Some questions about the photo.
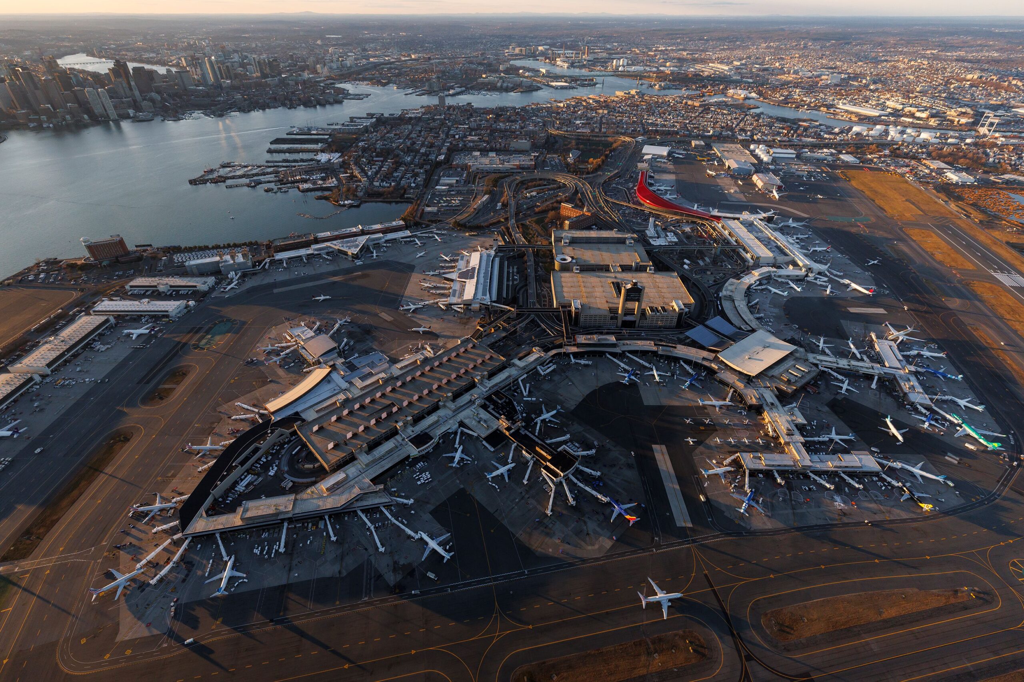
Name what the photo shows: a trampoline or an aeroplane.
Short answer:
aeroplane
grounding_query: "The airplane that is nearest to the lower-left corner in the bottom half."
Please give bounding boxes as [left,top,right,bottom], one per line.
[91,568,146,598]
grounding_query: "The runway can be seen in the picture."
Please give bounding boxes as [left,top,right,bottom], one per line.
[925,221,1024,314]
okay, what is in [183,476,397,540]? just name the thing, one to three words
building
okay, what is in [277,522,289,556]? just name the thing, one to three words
jet bridge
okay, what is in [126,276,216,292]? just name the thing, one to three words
hangar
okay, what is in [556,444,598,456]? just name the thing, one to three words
jet bridge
